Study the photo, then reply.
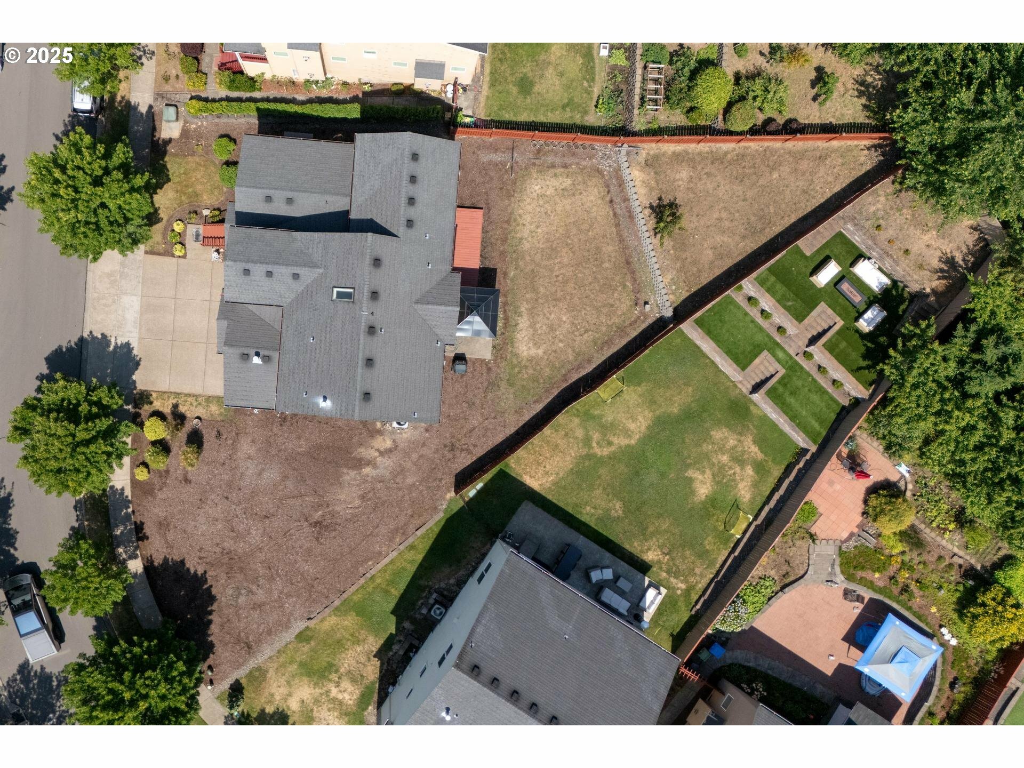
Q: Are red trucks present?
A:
No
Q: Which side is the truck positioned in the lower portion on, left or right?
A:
left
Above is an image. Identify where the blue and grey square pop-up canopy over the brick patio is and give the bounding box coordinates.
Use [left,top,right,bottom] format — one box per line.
[837,601,944,703]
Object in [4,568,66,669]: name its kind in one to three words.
truck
